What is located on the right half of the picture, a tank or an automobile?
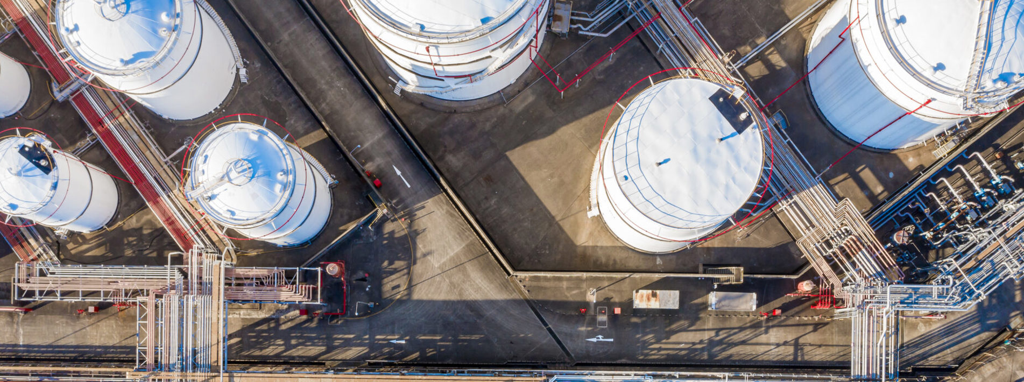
tank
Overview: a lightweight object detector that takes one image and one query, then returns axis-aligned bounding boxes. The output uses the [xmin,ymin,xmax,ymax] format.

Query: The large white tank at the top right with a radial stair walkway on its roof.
[760,0,1024,176]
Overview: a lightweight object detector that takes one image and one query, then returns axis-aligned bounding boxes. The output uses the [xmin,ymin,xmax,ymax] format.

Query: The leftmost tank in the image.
[0,51,44,120]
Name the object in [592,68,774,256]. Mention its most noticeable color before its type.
white storage tank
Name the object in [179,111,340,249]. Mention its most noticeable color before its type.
white storage tank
